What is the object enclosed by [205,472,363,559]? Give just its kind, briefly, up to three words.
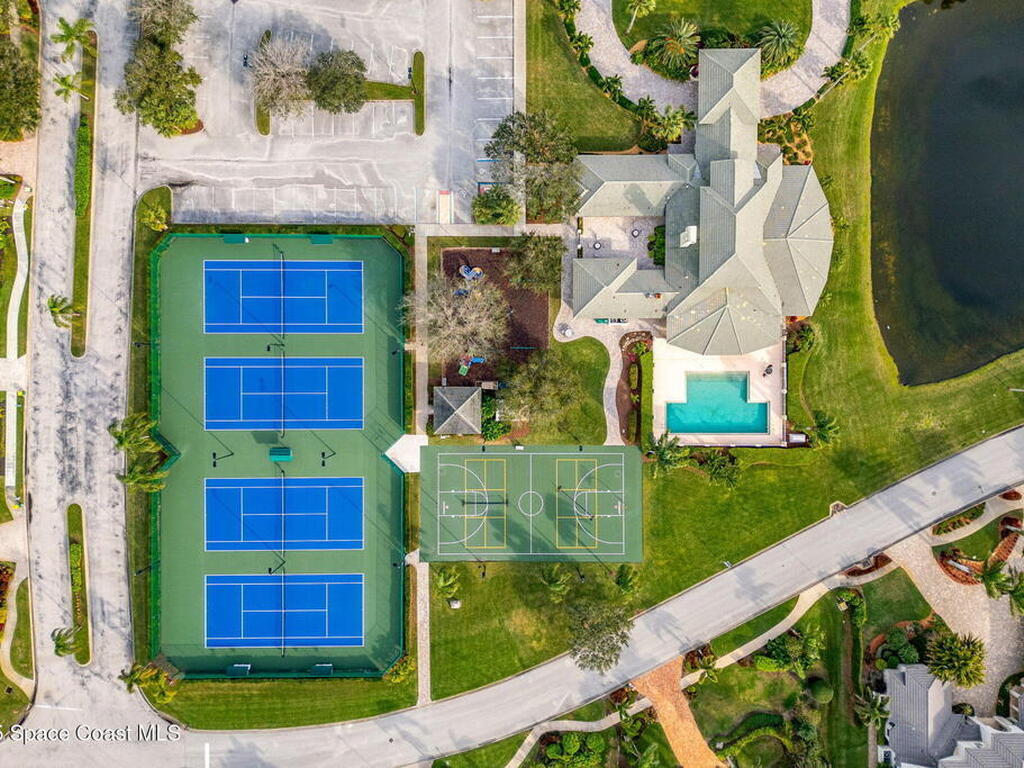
tennis court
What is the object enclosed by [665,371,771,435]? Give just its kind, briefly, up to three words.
swimming pool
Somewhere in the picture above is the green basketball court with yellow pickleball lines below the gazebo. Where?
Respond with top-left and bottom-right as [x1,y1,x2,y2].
[420,446,643,561]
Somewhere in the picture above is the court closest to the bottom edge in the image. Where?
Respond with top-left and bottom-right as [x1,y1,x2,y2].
[206,568,363,656]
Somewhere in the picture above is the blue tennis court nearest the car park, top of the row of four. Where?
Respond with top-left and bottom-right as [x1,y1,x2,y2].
[204,254,363,339]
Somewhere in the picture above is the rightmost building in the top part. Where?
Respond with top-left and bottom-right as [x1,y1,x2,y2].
[573,49,834,355]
